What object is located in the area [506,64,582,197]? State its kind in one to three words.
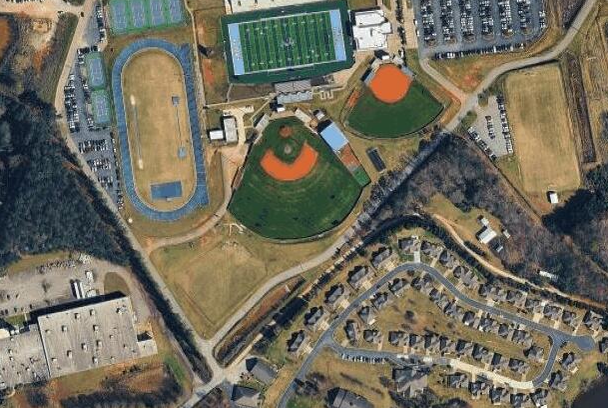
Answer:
sports field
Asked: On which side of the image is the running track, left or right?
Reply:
left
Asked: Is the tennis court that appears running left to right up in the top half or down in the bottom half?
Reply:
top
